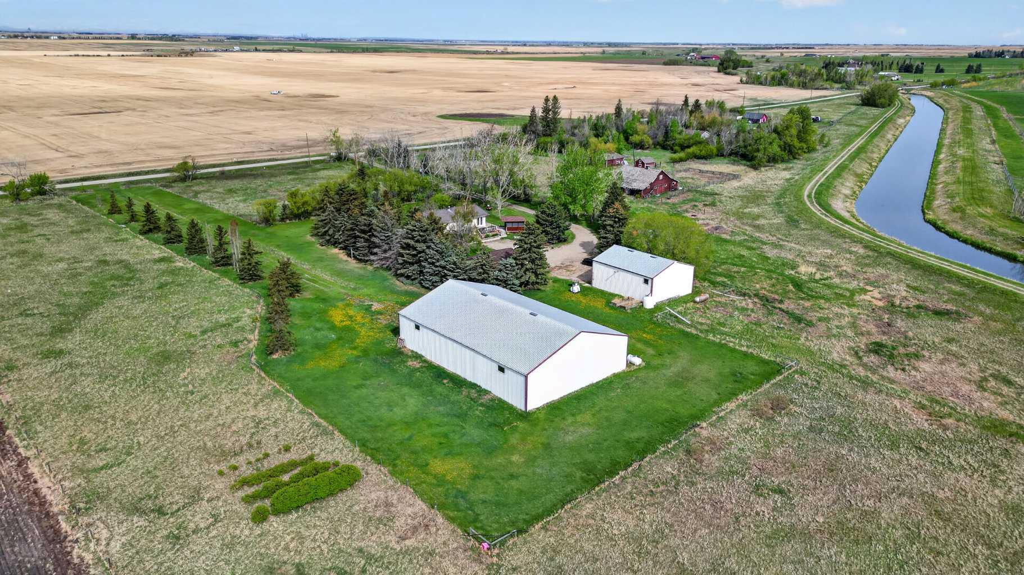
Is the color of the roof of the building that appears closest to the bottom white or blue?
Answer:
white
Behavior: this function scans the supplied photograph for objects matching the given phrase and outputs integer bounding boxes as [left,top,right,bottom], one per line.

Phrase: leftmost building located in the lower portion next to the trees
[398,279,631,412]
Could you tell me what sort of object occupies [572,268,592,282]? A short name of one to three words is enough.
car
